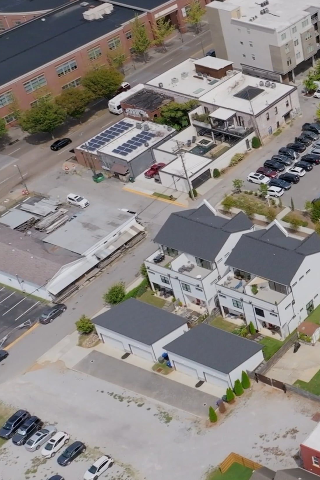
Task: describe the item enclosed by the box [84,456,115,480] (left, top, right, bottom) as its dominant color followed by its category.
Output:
white car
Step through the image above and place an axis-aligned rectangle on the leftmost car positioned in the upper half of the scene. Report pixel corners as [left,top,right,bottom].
[49,140,73,152]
